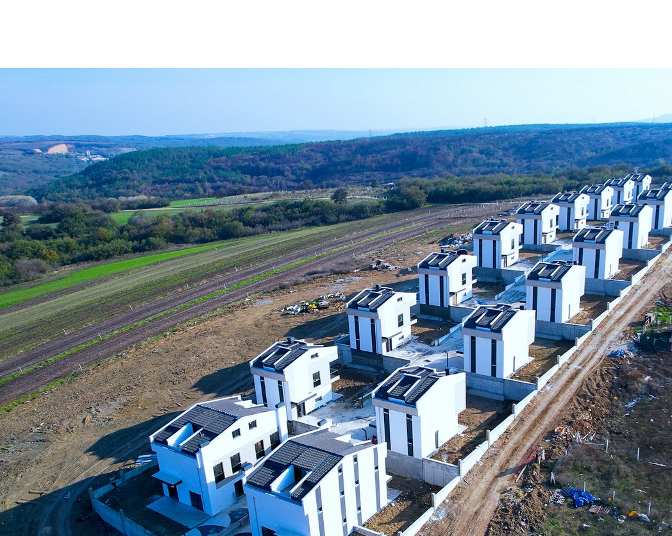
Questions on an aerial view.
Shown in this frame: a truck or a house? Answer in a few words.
house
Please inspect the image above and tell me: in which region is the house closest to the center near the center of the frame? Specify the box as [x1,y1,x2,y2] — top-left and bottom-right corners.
[347,284,418,354]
